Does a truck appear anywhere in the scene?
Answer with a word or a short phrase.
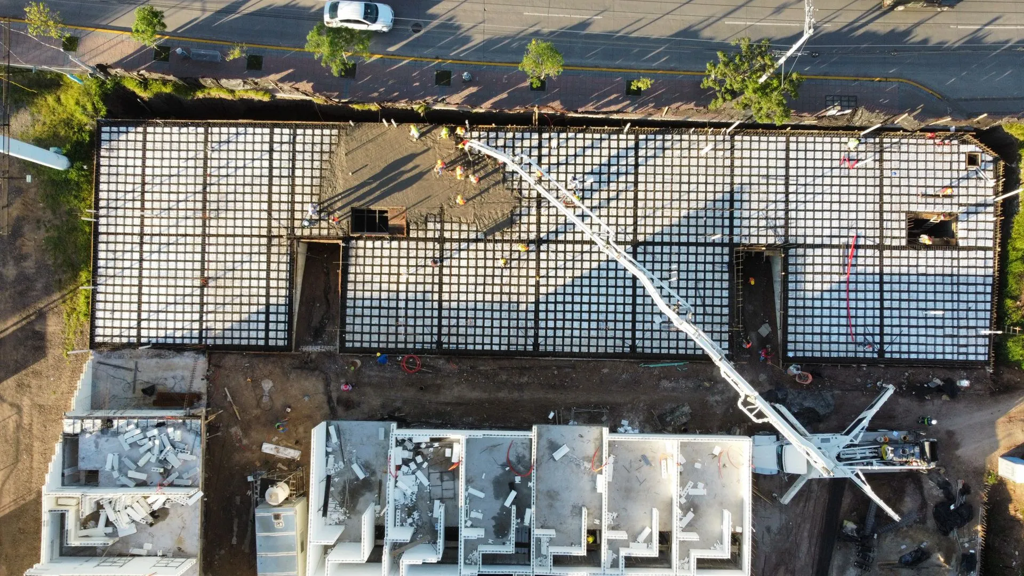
Yes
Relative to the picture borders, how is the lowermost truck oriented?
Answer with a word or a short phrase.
diagonally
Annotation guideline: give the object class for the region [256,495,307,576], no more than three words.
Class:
building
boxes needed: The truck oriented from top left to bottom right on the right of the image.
[460,138,941,520]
